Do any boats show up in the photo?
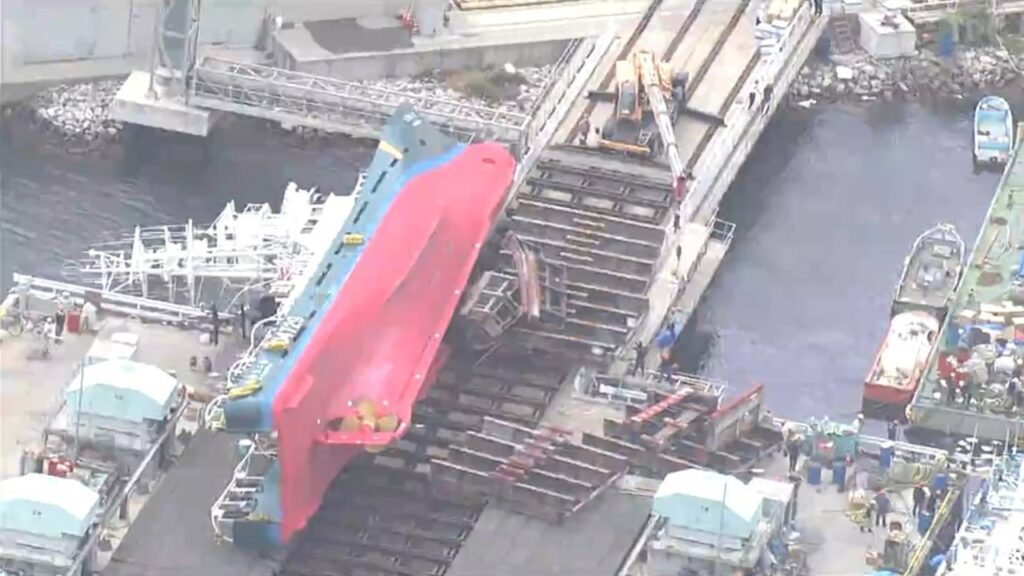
Yes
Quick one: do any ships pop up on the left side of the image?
Yes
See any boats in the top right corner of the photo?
Yes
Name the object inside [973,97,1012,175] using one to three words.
boat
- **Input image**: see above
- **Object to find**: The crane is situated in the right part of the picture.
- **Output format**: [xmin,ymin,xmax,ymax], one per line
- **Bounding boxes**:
[575,51,733,238]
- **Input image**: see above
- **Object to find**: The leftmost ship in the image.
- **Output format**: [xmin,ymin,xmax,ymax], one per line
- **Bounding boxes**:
[47,99,525,538]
